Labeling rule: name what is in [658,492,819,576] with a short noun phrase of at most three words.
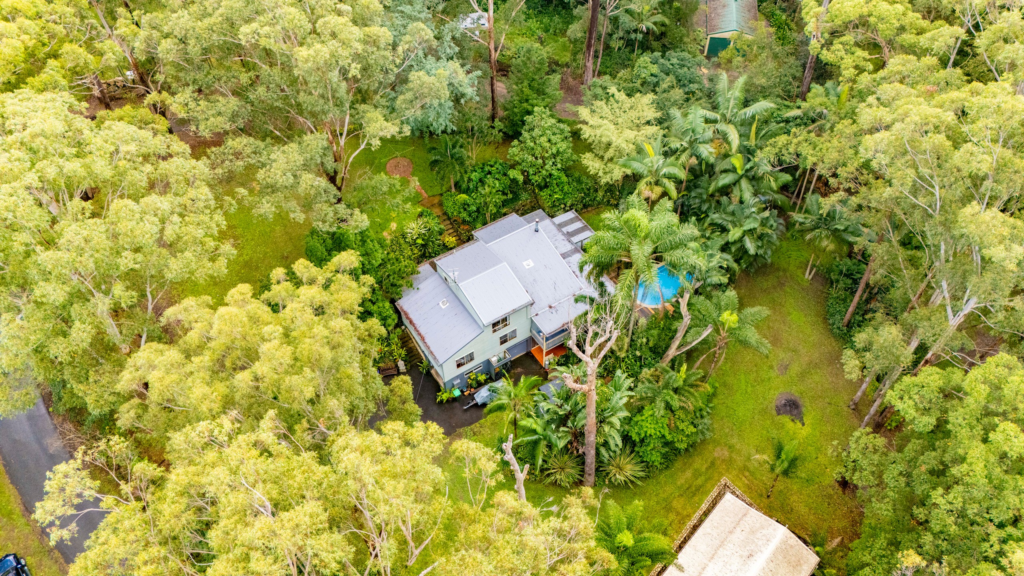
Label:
shed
